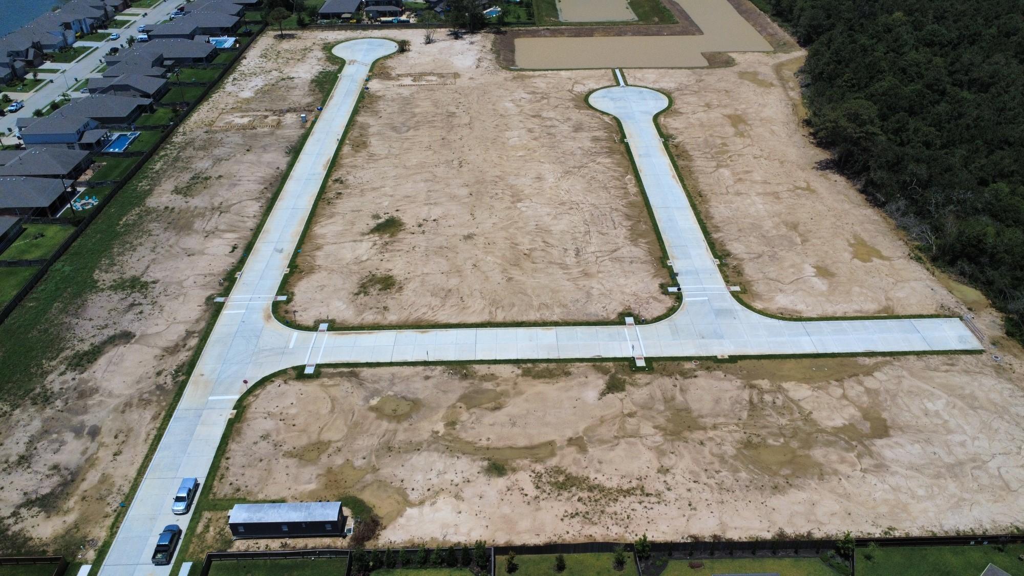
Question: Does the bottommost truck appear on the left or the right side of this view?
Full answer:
The bottommost truck appears in the left half of the scene.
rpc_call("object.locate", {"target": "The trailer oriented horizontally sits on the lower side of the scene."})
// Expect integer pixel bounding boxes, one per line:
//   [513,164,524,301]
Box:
[227,497,347,537]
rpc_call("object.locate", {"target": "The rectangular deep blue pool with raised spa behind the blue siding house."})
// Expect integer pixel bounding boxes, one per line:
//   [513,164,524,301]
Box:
[104,131,140,149]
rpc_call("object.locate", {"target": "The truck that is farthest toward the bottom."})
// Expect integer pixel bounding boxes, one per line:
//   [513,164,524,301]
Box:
[148,521,183,567]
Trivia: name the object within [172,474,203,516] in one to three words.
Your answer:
truck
